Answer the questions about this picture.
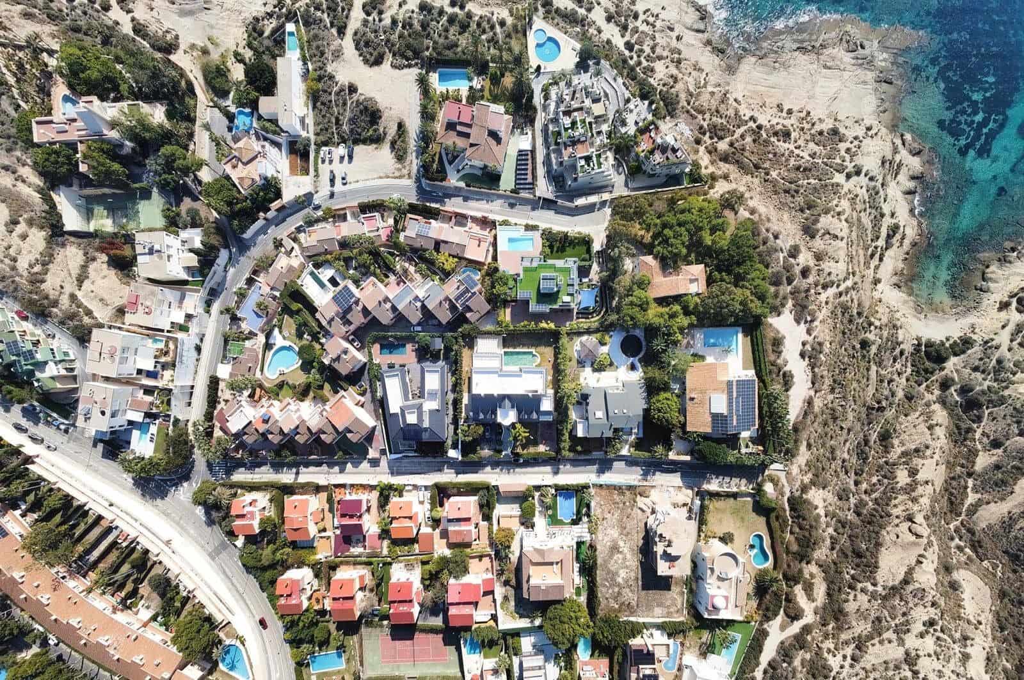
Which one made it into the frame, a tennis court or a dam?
tennis court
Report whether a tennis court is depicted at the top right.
No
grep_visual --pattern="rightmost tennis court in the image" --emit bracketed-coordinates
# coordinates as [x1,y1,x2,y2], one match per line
[362,630,462,675]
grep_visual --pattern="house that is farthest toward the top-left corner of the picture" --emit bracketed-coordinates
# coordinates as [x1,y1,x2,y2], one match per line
[35,96,168,146]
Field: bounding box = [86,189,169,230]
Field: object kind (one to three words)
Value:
tennis court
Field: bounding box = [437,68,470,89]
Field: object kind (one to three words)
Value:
swimming pool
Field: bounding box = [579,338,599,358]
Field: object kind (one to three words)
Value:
gazebo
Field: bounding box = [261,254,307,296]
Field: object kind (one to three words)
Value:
house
